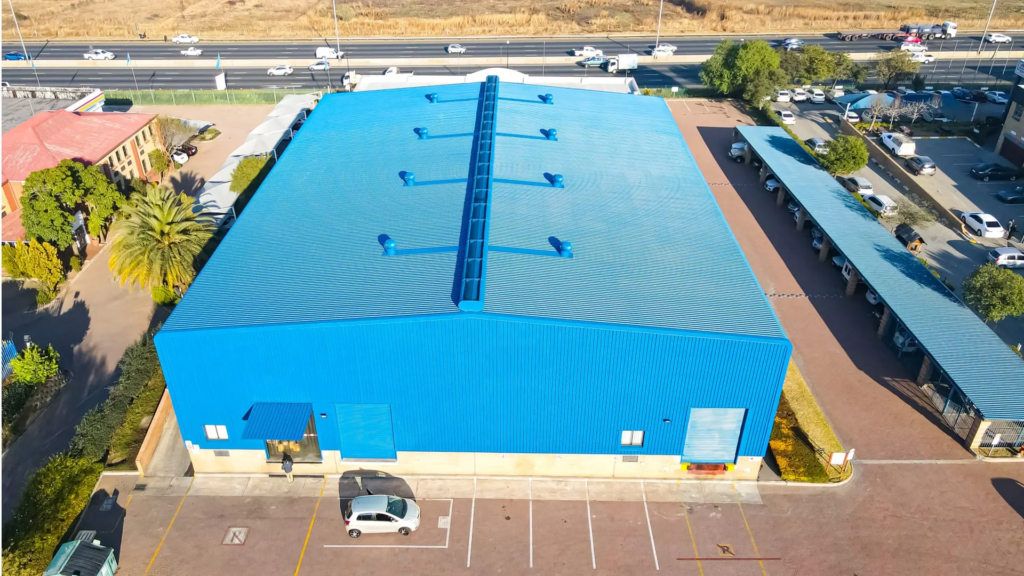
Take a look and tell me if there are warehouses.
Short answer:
Yes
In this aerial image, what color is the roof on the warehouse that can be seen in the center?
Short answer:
blue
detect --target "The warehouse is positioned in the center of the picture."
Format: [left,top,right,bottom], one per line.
[154,73,792,478]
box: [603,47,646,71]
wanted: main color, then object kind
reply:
white truck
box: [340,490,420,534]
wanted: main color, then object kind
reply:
white car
